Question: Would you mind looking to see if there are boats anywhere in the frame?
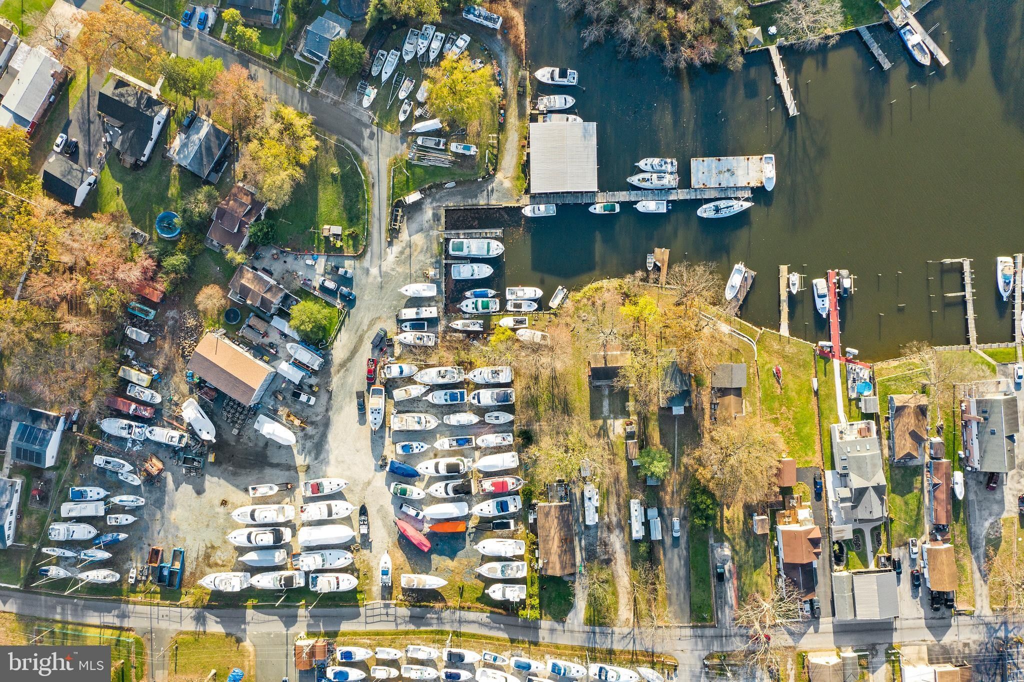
Yes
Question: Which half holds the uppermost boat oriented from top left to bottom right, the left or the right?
right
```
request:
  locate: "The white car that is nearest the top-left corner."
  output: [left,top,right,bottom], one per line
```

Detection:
[55,134,69,152]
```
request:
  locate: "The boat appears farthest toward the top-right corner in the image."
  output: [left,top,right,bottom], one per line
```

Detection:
[898,26,930,65]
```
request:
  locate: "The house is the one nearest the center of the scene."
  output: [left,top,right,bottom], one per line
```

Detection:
[589,351,633,389]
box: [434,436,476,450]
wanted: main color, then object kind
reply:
white boat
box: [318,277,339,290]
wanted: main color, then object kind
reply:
white vehicle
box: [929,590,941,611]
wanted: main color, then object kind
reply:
black vehicle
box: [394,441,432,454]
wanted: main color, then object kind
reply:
white boat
